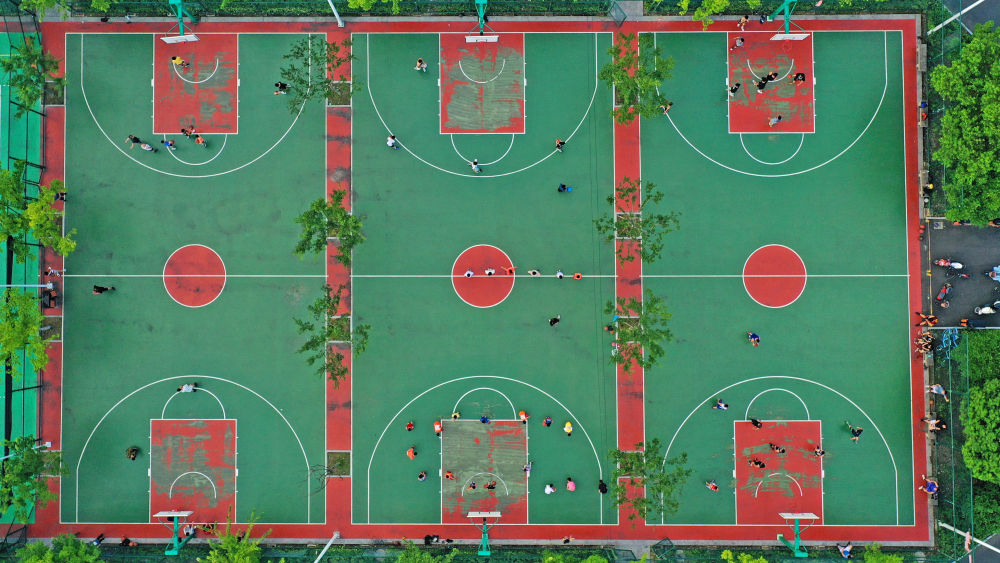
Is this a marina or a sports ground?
sports ground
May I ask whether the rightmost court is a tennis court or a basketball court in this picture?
basketball court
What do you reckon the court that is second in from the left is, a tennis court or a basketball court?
basketball court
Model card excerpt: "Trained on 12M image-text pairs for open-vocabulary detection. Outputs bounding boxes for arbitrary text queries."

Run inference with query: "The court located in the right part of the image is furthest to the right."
[640,30,913,525]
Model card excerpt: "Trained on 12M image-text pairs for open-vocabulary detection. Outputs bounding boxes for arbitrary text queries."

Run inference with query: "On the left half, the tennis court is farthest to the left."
[0,32,49,521]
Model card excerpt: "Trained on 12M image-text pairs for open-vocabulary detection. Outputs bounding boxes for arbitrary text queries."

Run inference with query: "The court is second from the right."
[351,31,617,524]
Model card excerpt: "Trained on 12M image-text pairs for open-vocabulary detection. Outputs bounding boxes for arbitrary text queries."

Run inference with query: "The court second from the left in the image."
[60,33,326,524]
